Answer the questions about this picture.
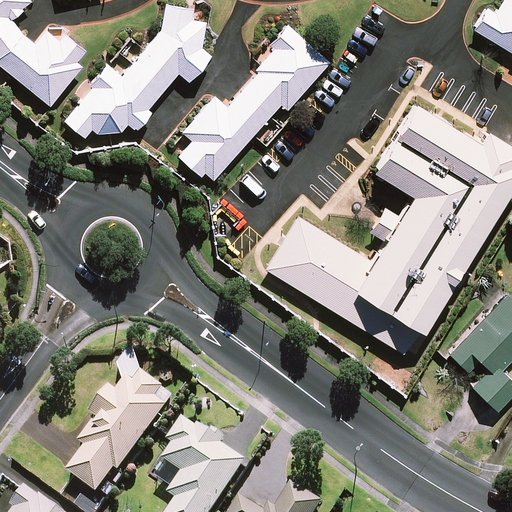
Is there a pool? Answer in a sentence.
No, this view has no pool in it.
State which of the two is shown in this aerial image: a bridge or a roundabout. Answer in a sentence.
The image shows a roundabout.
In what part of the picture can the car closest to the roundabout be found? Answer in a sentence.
The car closest to the roundabout is in the left part of the image.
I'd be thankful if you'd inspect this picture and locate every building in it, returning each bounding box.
[178,24,326,181]
[448,294,512,412]
[358,104,512,337]
[71,492,99,512]
[64,4,212,138]
[0,0,86,106]
[159,414,246,512]
[471,0,512,57]
[66,368,166,490]
[3,482,66,512]
[226,480,322,512]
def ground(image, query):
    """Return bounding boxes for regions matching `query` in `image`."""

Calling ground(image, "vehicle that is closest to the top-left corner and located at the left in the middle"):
[26,209,48,230]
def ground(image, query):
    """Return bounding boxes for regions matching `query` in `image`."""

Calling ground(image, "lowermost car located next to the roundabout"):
[73,264,96,284]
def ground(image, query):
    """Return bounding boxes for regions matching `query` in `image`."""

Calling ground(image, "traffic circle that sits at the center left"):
[81,216,144,278]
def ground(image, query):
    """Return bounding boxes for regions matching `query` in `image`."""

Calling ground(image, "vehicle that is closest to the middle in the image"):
[241,176,267,200]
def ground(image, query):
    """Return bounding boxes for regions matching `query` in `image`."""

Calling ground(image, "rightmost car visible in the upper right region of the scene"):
[475,106,492,128]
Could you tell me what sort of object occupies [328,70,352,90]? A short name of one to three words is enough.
car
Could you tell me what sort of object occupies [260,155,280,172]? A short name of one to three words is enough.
car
